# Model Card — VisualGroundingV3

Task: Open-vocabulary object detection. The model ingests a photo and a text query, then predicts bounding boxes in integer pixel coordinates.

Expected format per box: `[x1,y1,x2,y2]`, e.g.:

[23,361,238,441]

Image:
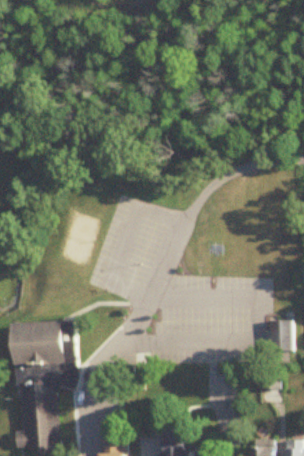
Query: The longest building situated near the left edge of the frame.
[8,322,66,450]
